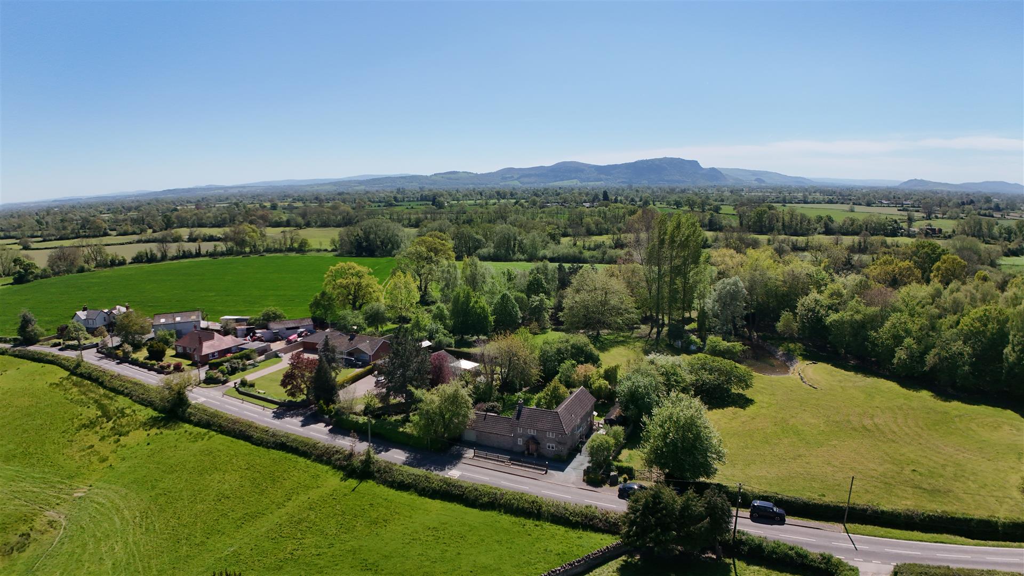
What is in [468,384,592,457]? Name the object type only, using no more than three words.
house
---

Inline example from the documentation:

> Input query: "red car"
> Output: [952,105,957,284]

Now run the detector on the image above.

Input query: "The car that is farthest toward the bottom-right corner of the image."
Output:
[746,500,786,524]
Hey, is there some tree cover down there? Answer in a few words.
Yes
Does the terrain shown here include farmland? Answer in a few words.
Yes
